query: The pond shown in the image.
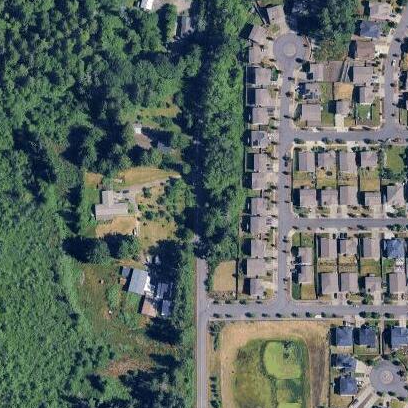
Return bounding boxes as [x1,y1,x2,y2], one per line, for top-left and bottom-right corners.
[264,346,303,408]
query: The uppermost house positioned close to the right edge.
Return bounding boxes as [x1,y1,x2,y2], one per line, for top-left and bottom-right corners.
[370,3,392,20]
